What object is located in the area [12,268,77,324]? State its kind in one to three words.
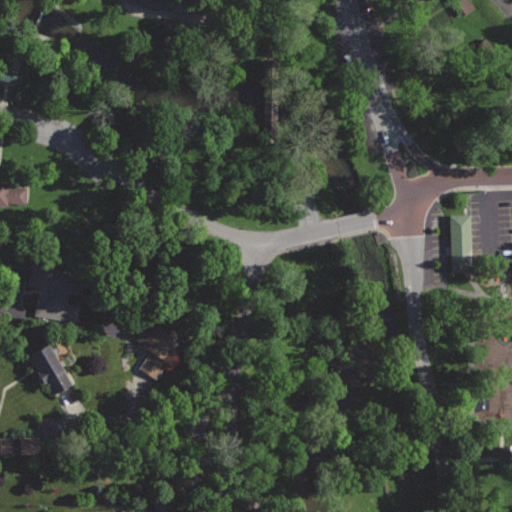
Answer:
house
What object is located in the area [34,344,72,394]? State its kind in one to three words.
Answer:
house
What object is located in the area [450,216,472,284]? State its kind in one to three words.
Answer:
building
